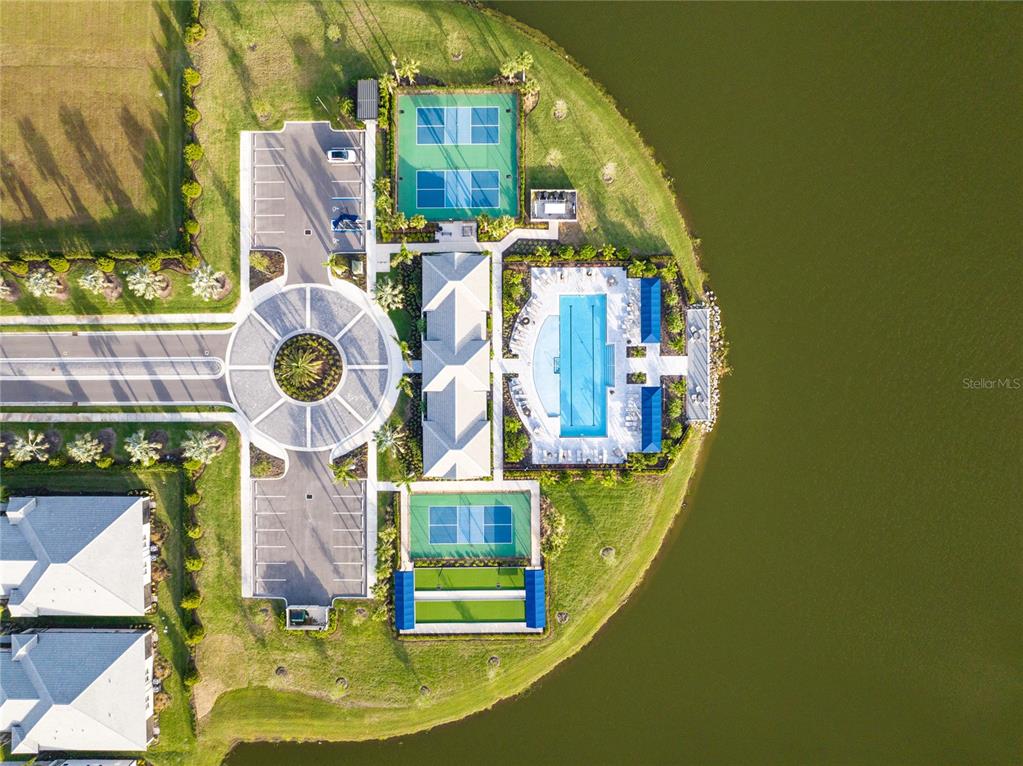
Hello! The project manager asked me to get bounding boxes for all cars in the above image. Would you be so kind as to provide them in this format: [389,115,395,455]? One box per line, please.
[327,147,356,162]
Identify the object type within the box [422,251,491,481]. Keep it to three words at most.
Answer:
building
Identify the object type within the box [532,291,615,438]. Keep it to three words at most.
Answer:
swimming pool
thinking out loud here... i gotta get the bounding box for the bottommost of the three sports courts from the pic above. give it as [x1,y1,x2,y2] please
[399,567,543,633]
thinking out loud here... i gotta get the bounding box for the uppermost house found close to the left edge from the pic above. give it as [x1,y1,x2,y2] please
[0,496,150,617]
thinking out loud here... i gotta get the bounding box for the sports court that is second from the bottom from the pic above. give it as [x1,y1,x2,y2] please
[409,491,532,560]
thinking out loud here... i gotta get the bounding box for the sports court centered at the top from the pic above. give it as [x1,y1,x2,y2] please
[397,93,520,223]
